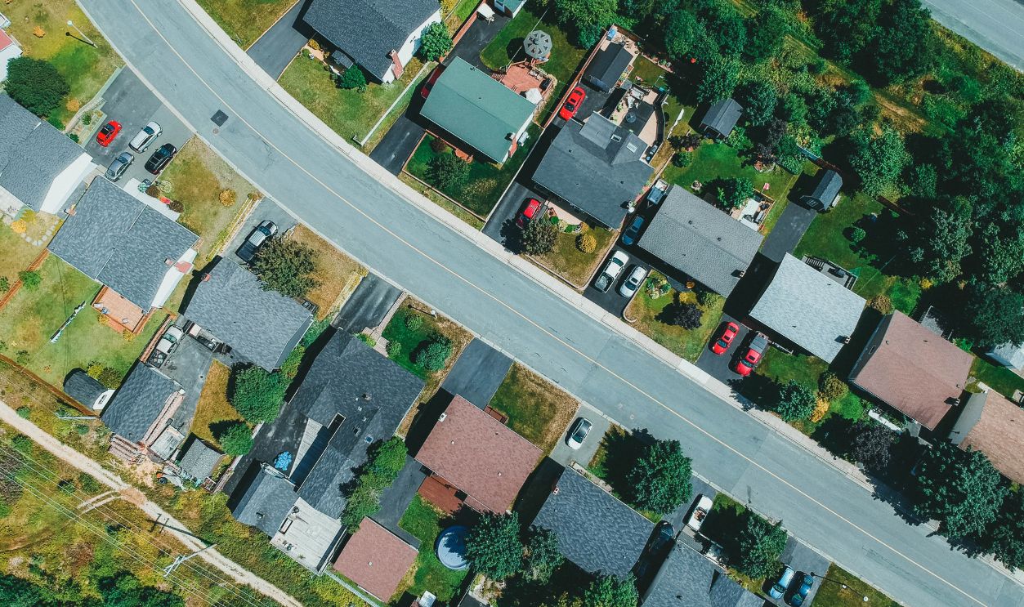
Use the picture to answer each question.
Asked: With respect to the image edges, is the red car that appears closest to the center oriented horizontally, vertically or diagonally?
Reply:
diagonally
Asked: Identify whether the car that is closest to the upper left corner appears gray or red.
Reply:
red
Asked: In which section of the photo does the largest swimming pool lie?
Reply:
bottom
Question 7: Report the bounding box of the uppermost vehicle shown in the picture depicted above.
[478,2,497,23]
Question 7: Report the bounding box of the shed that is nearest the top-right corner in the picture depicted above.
[797,167,844,211]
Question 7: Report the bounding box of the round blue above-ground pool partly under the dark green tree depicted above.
[435,525,477,570]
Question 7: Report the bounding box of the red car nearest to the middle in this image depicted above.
[516,195,543,228]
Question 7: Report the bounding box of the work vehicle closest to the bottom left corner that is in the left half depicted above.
[158,469,170,484]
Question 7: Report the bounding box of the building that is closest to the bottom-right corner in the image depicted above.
[946,389,1024,485]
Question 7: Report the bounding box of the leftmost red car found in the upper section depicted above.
[95,119,123,149]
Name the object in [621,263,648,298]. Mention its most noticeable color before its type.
white car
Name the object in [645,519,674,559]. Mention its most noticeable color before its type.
black car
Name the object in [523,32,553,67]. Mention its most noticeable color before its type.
gray gazebo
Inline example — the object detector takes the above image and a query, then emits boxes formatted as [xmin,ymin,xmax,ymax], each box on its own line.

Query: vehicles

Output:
[148,325,185,367]
[145,141,177,177]
[735,330,771,376]
[95,119,123,149]
[567,416,592,451]
[105,150,135,183]
[559,87,586,120]
[236,219,277,263]
[711,320,740,355]
[415,65,442,98]
[129,119,163,155]
[645,519,674,559]
[621,263,648,298]
[769,563,798,599]
[685,494,714,530]
[788,571,816,607]
[516,195,543,228]
[621,213,645,246]
[158,469,170,484]
[596,250,628,293]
